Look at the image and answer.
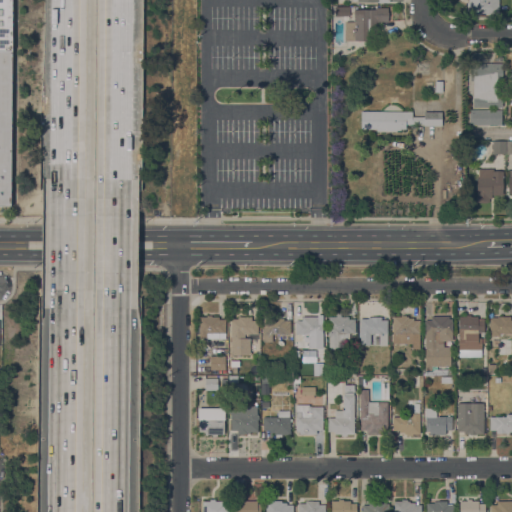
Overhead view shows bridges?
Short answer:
Yes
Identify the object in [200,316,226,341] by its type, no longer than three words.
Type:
house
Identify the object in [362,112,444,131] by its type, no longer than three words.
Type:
building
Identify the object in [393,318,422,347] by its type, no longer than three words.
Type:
house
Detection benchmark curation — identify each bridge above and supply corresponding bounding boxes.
[44,180,140,318]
